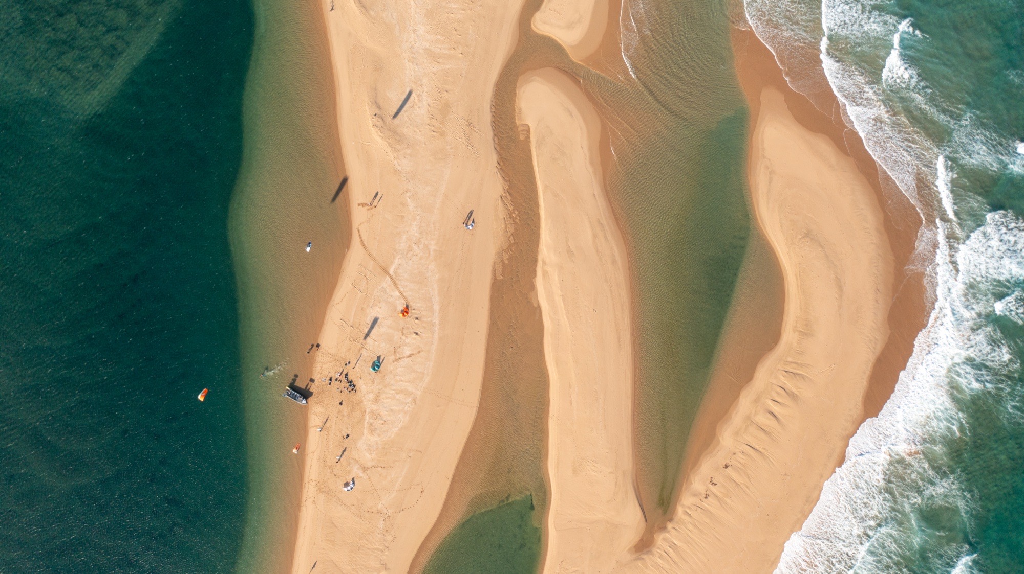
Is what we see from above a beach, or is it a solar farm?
beach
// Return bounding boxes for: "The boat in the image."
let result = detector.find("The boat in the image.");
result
[283,391,306,406]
